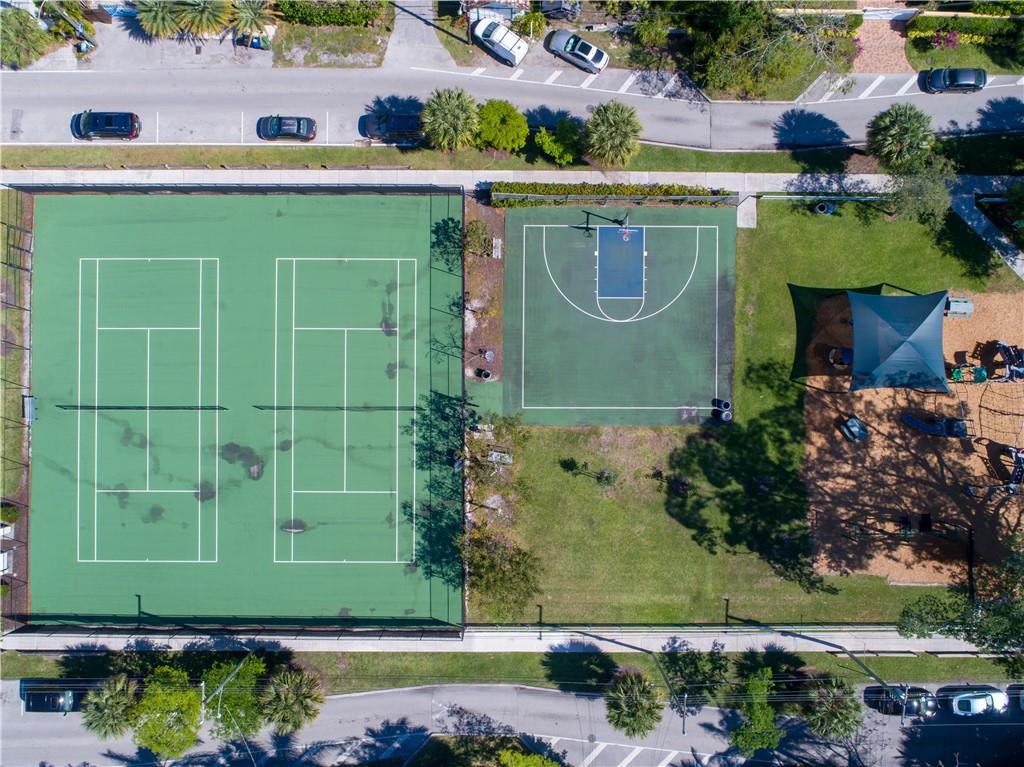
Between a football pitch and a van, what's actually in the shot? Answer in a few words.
van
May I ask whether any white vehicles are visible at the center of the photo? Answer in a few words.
No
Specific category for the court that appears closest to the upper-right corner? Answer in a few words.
basketball court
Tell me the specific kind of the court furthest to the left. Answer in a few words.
tennis court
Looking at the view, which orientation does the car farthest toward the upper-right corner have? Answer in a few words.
from side to side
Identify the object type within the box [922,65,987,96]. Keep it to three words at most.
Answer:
car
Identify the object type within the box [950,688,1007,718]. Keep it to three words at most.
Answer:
car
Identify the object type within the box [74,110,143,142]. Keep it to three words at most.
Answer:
van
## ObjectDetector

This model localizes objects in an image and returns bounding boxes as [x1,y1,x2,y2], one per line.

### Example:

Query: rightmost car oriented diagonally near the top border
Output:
[549,29,609,76]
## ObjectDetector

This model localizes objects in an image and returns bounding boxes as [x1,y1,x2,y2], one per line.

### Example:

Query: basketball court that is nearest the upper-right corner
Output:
[503,206,737,426]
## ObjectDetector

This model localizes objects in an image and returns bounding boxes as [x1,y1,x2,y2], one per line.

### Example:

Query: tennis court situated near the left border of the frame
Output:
[29,194,246,626]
